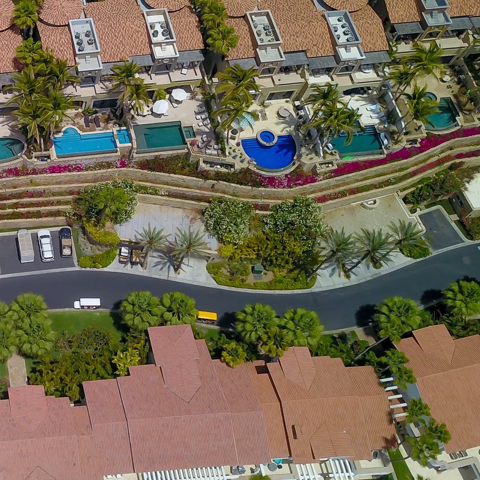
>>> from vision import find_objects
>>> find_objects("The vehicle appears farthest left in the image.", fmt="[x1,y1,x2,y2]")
[14,227,37,268]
